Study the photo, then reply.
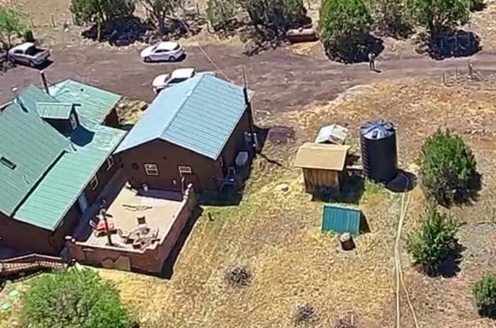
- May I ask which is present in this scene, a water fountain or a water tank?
water tank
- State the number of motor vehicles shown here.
3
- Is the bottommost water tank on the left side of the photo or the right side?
right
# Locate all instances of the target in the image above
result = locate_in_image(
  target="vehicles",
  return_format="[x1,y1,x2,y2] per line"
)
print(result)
[138,40,181,61]
[5,45,46,68]
[156,64,214,92]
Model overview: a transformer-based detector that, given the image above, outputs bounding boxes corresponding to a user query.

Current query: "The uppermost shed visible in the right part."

[295,141,350,189]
